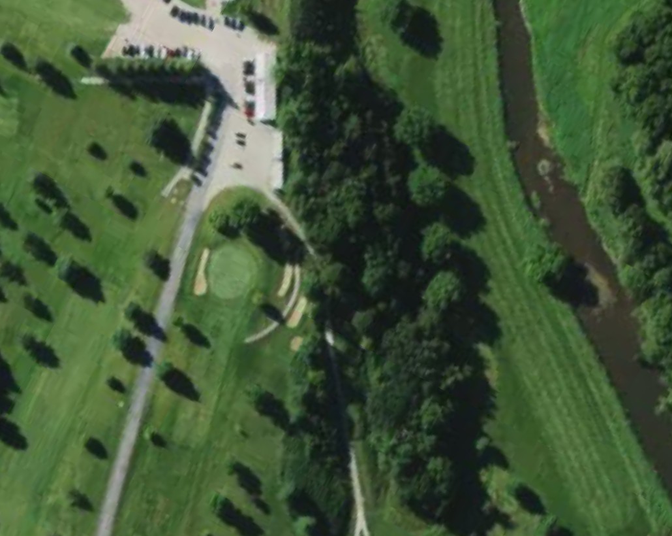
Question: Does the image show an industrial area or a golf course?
golf course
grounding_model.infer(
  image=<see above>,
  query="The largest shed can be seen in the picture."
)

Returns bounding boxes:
[255,52,276,120]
